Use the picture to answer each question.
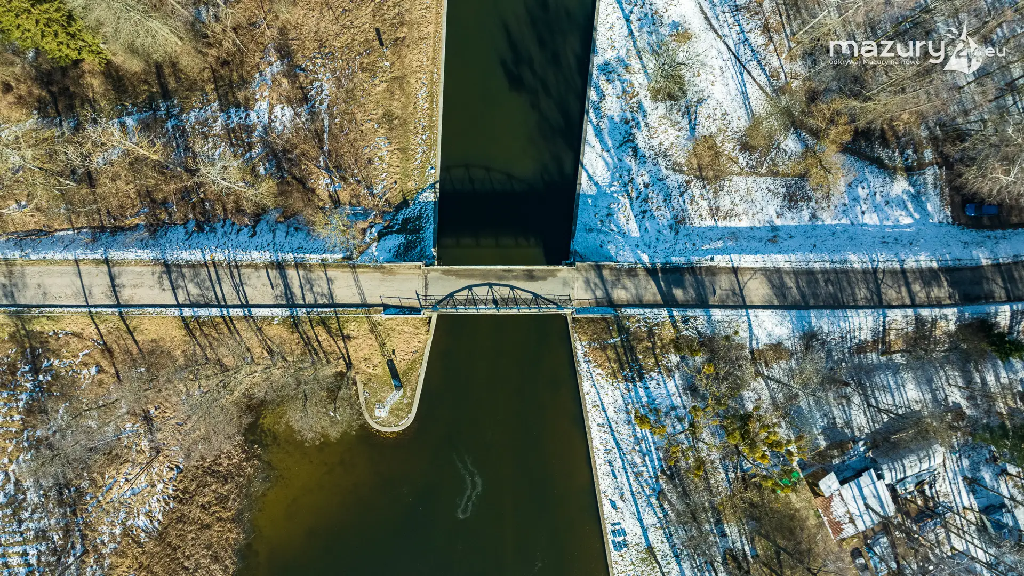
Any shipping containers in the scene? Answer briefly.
No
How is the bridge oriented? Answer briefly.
from left to right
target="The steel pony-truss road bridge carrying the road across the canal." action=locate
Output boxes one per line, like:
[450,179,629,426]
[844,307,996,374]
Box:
[381,260,615,315]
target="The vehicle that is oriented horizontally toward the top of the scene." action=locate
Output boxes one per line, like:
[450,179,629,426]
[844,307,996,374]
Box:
[968,201,1002,217]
